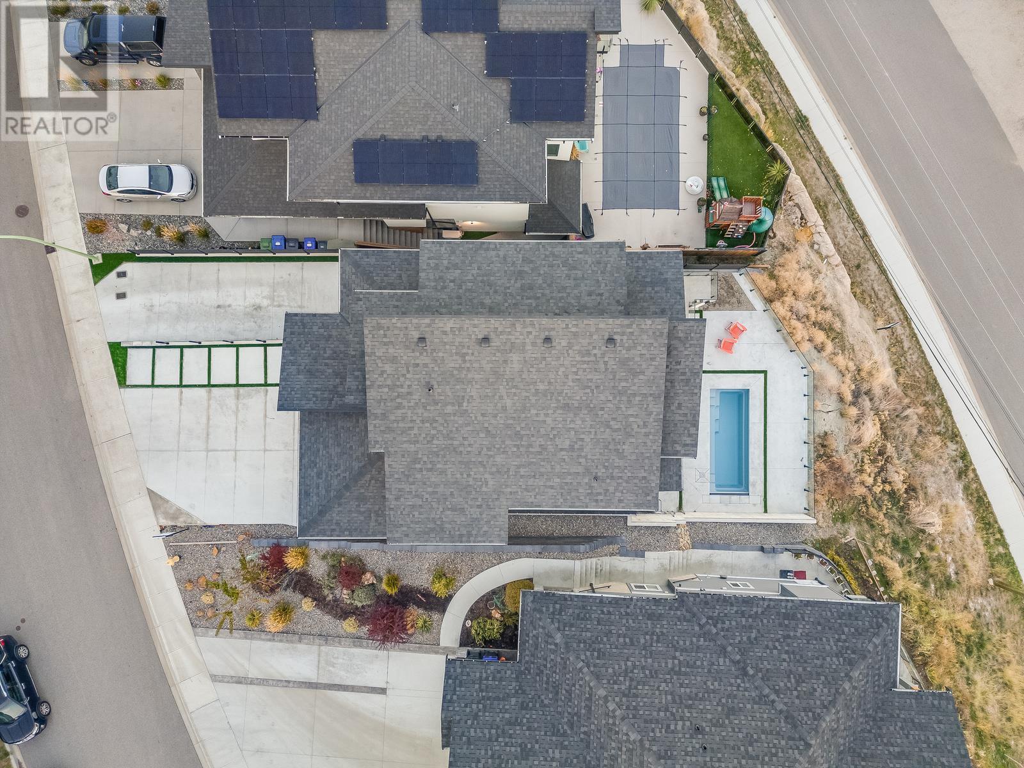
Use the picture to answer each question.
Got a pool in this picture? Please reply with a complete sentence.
Yes, the frame does contain a pool.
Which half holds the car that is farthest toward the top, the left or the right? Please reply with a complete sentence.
The car that is farthest toward the top appears in the left half of the scene.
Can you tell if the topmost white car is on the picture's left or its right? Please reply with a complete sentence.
The topmost white car is on the left side of the image.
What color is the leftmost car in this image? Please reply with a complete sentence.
The color of the leftmost car is black.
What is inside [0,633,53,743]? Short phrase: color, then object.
black car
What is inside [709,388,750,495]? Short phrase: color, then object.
blue swimming pool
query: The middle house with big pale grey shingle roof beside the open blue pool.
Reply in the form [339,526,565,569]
[278,239,707,546]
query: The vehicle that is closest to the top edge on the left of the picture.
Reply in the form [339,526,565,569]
[64,11,166,69]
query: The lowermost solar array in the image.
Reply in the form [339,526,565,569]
[350,140,479,185]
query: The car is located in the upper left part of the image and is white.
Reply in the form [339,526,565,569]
[100,153,198,203]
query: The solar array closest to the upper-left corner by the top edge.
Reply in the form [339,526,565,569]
[207,0,388,119]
